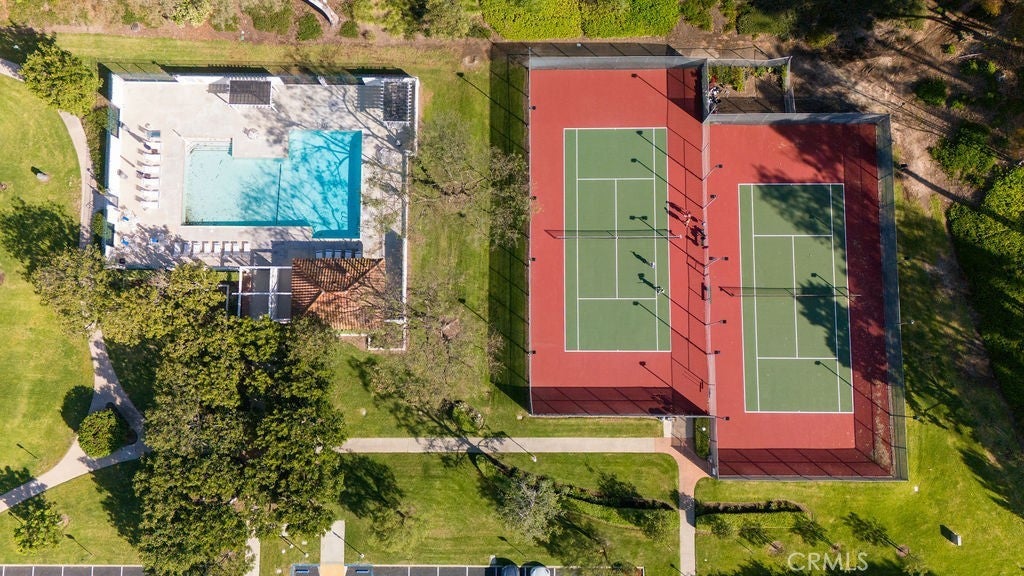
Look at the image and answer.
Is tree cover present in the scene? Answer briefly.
Yes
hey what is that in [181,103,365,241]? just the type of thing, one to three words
swimming pool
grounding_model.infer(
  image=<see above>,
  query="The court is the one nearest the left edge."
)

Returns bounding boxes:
[529,68,708,415]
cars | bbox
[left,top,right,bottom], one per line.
[531,567,549,576]
[501,566,519,576]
